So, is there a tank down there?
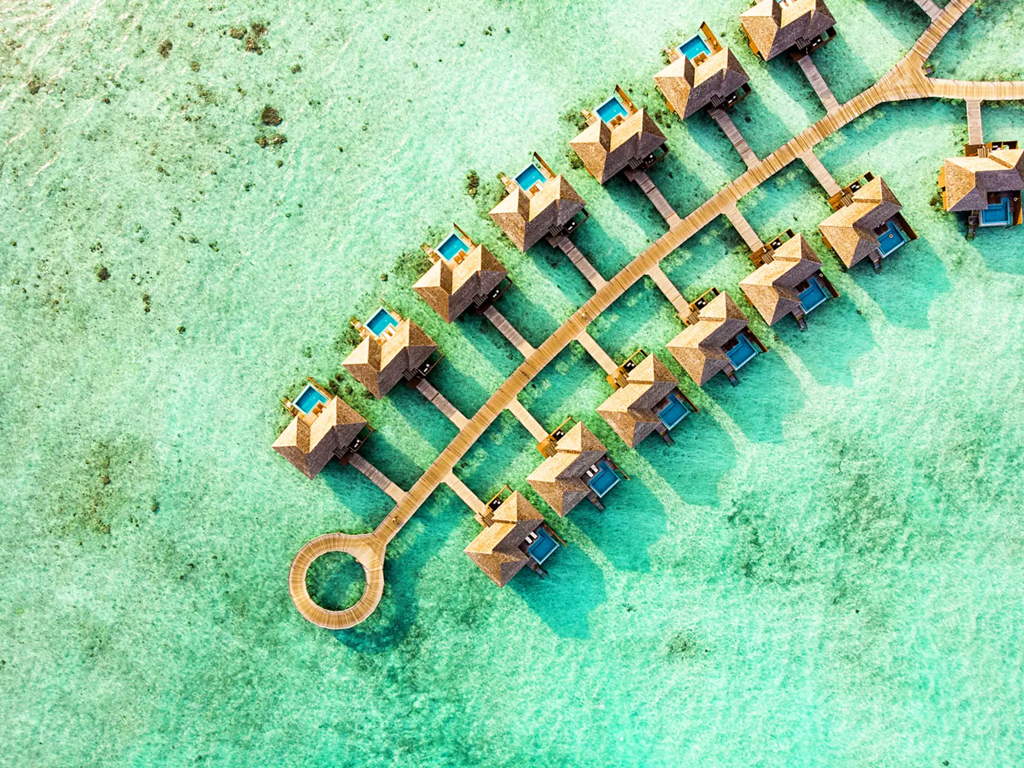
No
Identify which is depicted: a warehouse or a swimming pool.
swimming pool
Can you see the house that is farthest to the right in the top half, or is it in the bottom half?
top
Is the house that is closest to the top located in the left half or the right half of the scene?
right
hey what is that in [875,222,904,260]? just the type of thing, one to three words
swimming pool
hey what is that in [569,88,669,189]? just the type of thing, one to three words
house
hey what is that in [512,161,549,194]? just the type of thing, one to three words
swimming pool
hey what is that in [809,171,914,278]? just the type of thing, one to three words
house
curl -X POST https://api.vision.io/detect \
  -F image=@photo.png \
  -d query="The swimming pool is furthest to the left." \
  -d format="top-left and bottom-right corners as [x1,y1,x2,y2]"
[294,382,331,416]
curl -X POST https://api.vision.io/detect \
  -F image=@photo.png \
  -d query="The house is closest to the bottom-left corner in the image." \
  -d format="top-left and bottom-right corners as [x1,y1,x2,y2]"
[272,378,378,480]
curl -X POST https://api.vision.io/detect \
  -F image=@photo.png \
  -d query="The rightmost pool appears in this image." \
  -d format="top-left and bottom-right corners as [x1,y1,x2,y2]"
[971,201,1007,230]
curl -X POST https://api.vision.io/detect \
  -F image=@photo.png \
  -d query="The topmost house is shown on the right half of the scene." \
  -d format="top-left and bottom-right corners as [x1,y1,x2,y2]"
[736,0,837,74]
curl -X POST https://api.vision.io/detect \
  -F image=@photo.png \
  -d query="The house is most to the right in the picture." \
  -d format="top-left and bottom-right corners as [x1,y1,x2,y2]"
[928,141,1024,245]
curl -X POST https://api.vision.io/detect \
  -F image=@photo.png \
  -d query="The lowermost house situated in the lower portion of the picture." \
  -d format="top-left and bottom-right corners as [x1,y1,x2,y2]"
[464,482,565,587]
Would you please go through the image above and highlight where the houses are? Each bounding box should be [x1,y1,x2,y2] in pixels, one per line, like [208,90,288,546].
[736,0,837,74]
[653,26,751,128]
[464,482,565,587]
[342,299,445,400]
[412,225,513,325]
[734,228,836,333]
[596,349,696,449]
[489,154,589,254]
[526,416,627,517]
[928,141,1024,245]
[272,378,378,480]
[809,171,914,278]
[569,88,669,189]
[665,287,765,387]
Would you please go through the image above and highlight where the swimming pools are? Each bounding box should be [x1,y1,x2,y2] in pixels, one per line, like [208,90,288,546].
[674,34,712,63]
[592,96,629,126]
[656,393,689,429]
[528,525,561,562]
[725,334,758,370]
[875,222,904,260]
[512,161,549,194]
[435,231,472,264]
[971,201,1007,230]
[588,459,621,496]
[365,304,402,337]
[294,382,331,416]
[797,278,828,315]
